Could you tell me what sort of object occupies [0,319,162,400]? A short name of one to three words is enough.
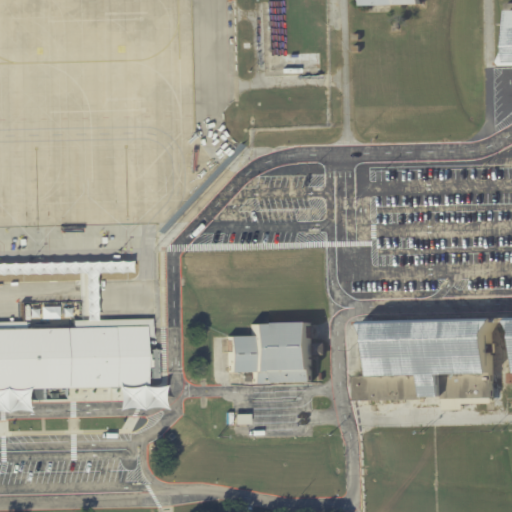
building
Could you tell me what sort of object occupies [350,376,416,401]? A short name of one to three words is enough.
building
